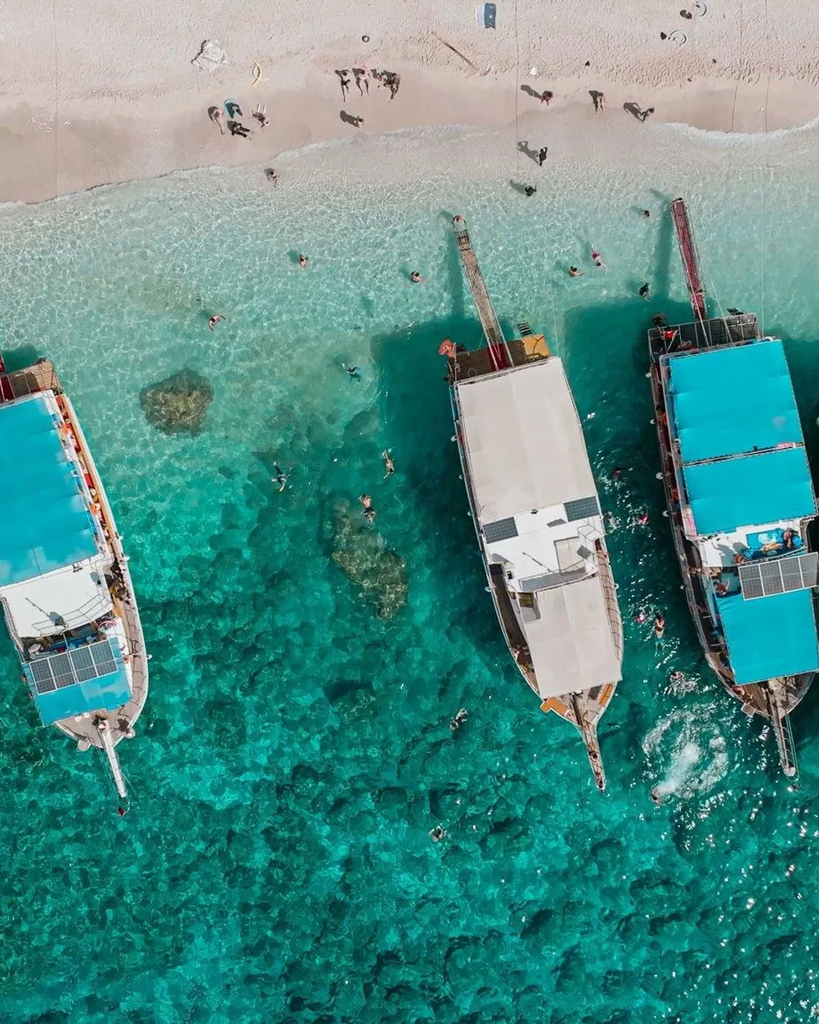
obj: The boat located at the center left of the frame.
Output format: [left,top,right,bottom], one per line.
[0,343,158,802]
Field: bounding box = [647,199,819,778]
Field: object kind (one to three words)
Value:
boat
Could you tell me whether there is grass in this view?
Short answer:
No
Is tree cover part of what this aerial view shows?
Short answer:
No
